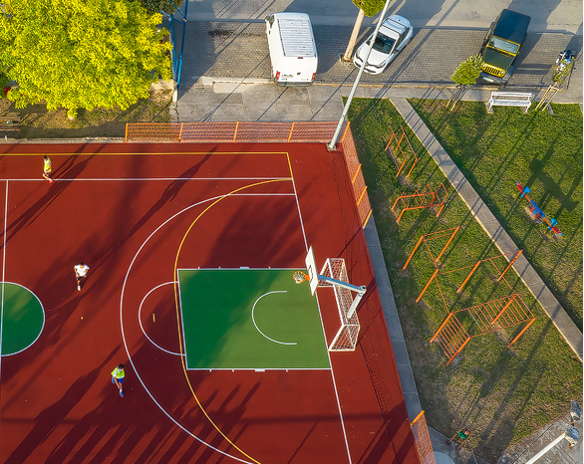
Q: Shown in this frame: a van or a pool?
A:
van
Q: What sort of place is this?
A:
sports ground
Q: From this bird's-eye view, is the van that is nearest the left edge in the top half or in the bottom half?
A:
top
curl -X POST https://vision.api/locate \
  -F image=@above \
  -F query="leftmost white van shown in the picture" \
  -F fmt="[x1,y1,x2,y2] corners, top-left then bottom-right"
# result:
[269,5,323,83]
